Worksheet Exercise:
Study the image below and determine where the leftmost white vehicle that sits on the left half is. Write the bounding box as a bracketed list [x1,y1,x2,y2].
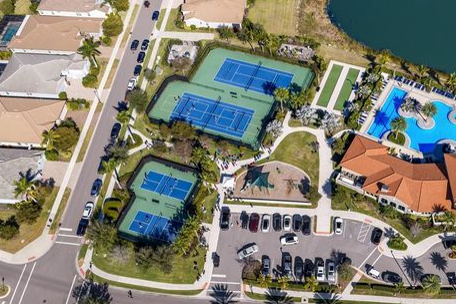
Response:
[82,201,94,218]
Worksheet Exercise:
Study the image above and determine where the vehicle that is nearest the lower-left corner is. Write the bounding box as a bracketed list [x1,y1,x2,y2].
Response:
[76,218,89,238]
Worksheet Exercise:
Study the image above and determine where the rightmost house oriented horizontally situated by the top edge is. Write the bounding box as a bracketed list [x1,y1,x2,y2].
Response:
[181,0,246,28]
